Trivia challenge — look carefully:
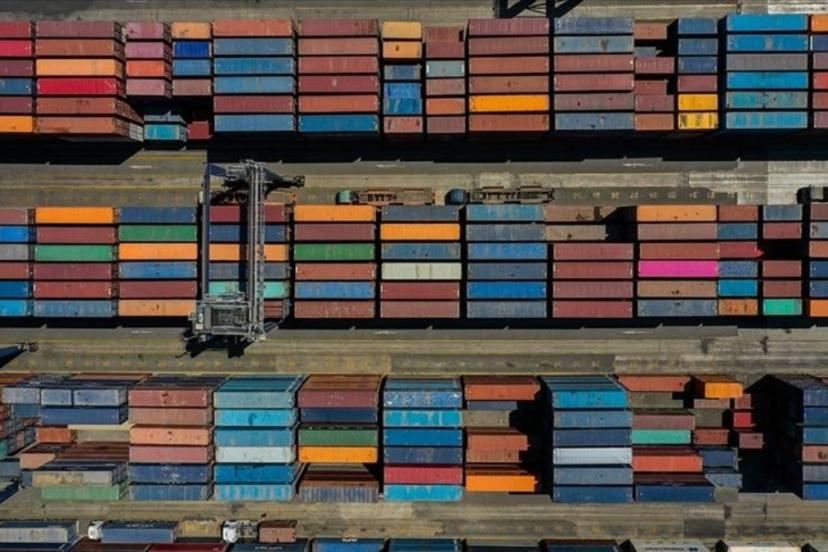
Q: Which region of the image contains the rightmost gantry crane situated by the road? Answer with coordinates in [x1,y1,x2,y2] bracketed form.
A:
[188,161,312,346]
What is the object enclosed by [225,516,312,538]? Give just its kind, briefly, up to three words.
truck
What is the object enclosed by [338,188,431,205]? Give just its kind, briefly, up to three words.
vehicle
